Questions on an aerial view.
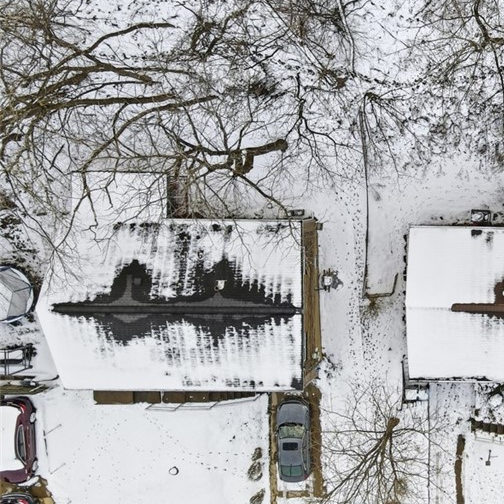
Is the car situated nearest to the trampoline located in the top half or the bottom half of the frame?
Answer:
bottom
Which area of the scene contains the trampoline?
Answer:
left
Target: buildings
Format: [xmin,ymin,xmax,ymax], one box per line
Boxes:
[404,225,504,403]
[36,173,319,393]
